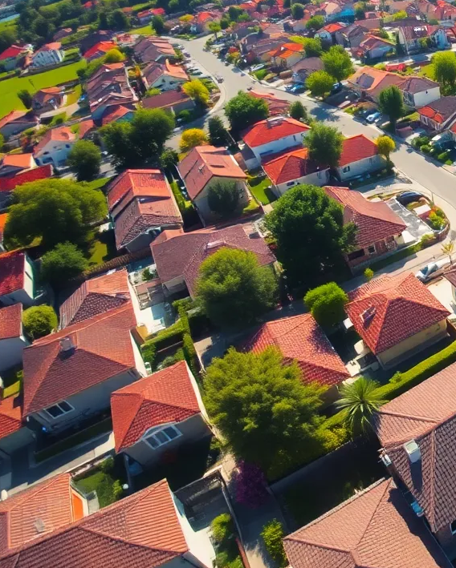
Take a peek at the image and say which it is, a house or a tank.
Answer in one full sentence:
Of the two, only a house appears.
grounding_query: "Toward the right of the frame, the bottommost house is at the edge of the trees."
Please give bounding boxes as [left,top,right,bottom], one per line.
[280,473,452,568]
